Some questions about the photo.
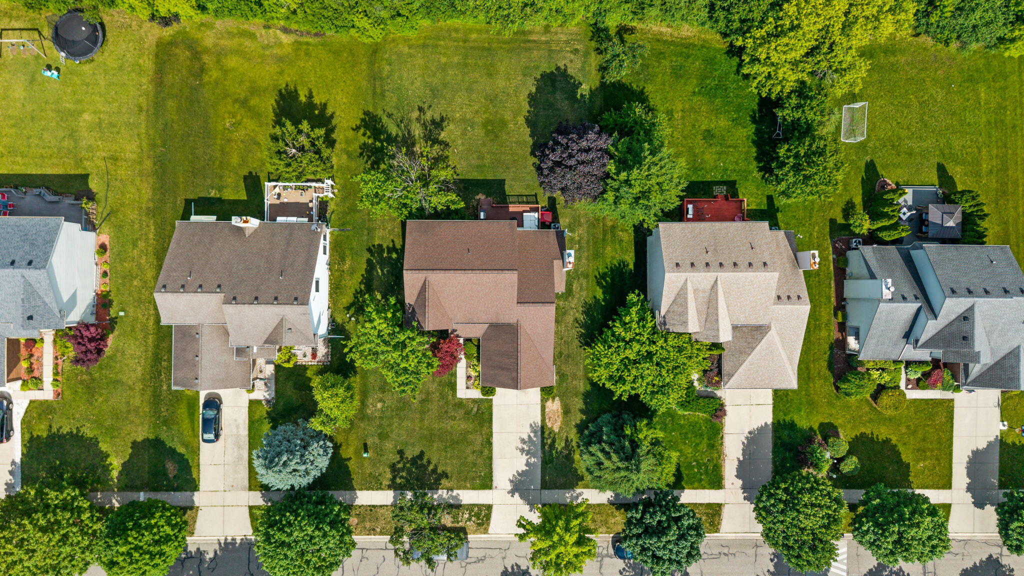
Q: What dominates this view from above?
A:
grass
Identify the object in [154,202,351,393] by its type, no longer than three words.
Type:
house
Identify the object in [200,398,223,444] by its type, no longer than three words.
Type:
car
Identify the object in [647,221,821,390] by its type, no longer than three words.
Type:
house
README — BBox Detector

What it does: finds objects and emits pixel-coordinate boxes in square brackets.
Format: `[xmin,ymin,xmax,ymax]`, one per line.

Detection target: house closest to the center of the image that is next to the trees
[402,219,574,394]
